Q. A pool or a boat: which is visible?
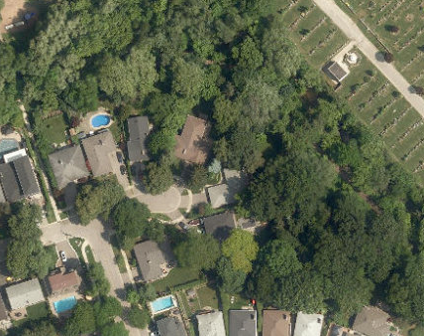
pool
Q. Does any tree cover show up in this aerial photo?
Yes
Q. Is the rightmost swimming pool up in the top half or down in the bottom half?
bottom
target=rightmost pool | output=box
[150,294,175,314]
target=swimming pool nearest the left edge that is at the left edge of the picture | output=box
[0,138,19,156]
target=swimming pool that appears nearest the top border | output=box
[89,114,110,129]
